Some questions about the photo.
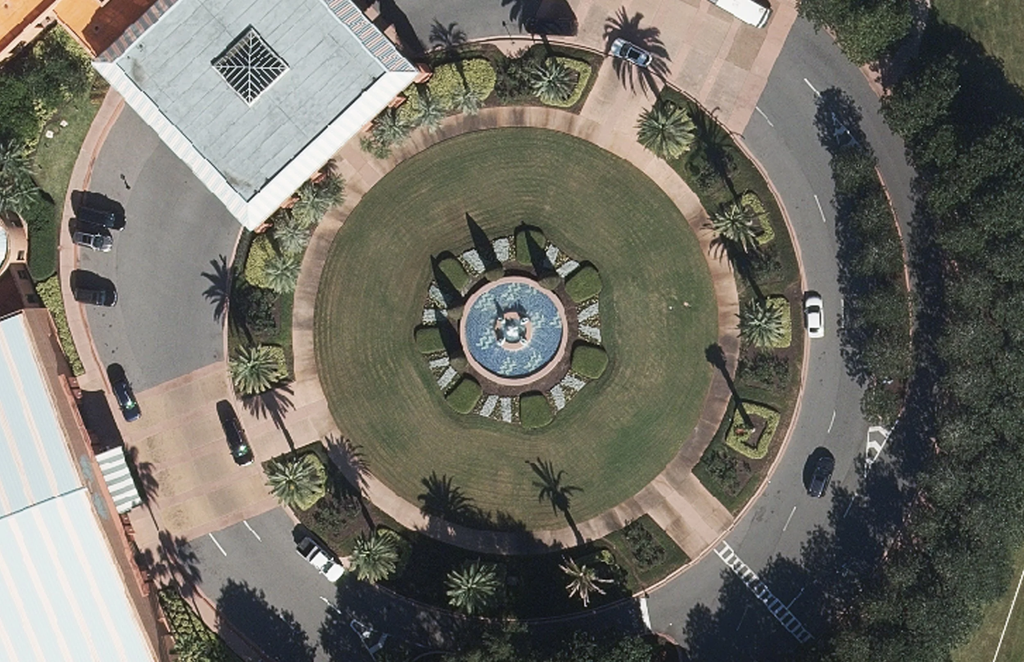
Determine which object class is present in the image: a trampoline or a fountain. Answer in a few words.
fountain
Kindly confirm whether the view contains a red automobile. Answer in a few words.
No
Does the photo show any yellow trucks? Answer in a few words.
No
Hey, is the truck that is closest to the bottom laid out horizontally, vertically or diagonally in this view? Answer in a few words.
diagonally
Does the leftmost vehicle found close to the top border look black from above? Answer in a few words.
Yes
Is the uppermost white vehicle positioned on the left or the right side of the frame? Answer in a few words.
right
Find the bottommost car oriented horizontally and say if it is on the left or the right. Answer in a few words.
left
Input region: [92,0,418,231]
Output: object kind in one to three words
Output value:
building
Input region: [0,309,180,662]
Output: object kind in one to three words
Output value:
building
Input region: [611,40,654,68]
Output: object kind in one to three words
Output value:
car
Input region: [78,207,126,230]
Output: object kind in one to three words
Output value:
car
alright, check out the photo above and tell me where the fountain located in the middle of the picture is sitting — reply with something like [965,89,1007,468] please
[459,276,568,385]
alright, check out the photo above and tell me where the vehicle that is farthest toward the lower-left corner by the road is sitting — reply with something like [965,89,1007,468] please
[111,378,141,424]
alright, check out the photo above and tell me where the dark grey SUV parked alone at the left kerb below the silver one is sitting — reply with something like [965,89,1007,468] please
[74,287,120,308]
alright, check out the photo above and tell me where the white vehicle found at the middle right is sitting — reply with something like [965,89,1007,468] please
[806,297,825,339]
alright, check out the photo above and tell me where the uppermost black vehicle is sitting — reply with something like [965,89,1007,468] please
[527,15,577,35]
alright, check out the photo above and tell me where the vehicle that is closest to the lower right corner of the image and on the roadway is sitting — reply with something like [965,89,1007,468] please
[811,456,836,500]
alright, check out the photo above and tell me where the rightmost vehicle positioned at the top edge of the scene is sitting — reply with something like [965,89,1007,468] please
[710,0,776,31]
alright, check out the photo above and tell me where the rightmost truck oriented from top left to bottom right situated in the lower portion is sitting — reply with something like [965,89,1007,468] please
[297,540,344,583]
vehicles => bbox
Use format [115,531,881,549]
[74,287,120,308]
[710,0,776,31]
[811,456,836,500]
[611,40,654,68]
[297,540,344,583]
[111,378,141,424]
[71,230,114,252]
[527,15,577,35]
[220,418,254,467]
[806,297,825,339]
[78,207,126,230]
